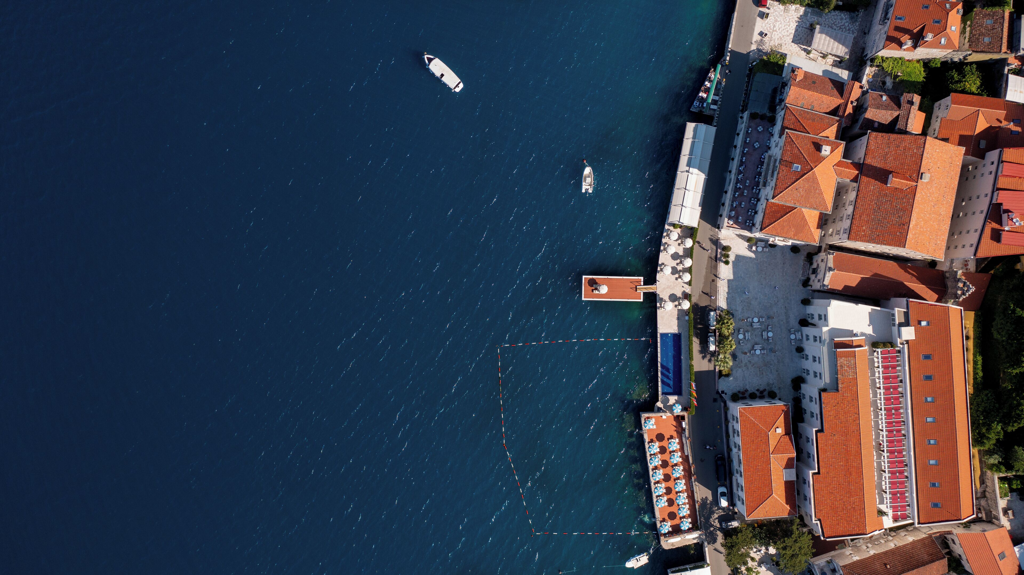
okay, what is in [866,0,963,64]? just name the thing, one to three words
house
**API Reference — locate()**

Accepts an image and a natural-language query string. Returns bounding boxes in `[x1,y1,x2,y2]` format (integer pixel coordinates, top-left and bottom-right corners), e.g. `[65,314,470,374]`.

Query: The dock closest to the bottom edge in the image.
[640,413,701,536]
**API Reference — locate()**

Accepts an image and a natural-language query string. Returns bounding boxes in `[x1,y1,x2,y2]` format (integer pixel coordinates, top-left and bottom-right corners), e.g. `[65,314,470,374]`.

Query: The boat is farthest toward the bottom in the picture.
[625,553,649,569]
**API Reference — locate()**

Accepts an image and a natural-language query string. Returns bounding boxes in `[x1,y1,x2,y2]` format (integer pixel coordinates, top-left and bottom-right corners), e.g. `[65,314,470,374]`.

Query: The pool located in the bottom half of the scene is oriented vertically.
[659,330,683,396]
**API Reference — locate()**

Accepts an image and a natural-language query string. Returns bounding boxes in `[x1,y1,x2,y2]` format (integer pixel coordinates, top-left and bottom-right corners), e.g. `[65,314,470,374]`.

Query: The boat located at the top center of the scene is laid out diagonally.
[424,55,465,95]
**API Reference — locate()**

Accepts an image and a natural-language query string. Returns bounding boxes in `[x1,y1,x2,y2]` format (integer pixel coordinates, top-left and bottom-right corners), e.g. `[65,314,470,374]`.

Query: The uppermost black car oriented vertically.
[715,452,727,476]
